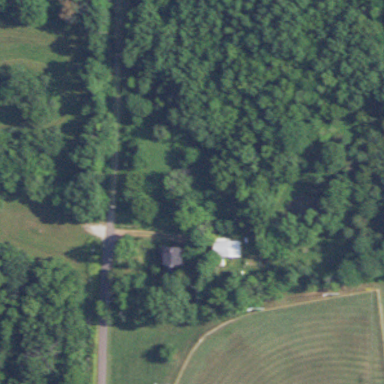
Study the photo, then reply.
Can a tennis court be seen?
No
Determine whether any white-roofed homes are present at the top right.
No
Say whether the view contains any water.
No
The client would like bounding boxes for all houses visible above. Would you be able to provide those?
[214,239,242,258]
[163,248,185,268]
